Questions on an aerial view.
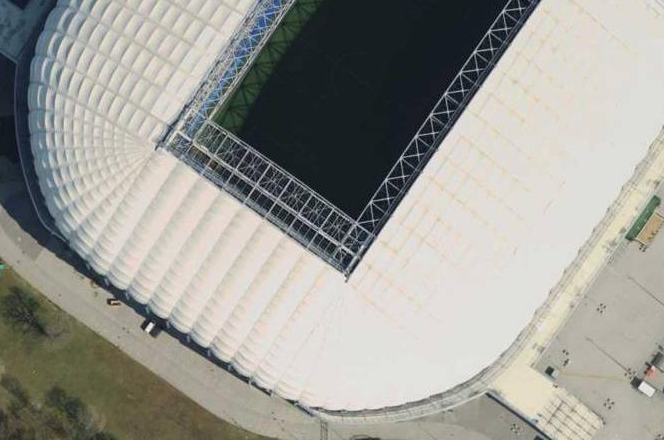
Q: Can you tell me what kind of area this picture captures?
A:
sports ground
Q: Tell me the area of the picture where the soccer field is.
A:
top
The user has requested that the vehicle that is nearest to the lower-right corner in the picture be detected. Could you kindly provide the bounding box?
[639,381,657,397]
